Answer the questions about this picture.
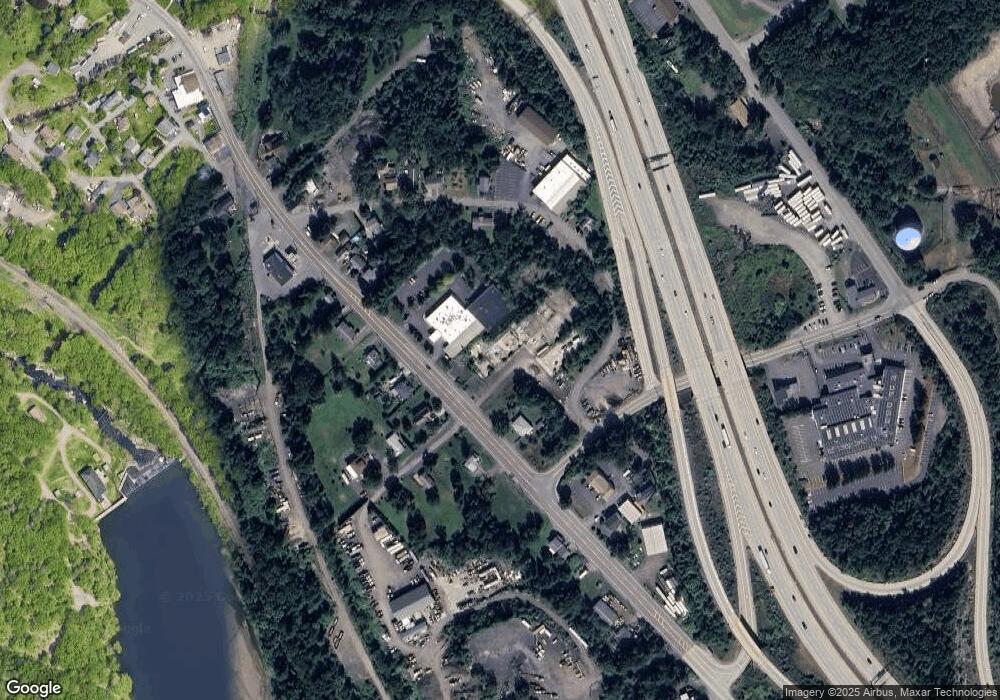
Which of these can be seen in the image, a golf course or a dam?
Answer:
dam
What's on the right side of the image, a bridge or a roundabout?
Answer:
bridge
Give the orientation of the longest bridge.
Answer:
diagonally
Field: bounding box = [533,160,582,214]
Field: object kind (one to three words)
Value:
building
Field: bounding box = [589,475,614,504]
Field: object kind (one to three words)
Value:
building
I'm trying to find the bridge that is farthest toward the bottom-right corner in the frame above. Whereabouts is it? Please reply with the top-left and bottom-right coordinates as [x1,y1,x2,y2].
[723,612,797,687]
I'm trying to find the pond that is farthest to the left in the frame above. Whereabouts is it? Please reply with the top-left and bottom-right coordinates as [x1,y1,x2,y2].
[98,462,270,700]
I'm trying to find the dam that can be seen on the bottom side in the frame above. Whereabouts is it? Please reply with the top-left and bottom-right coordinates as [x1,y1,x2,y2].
[95,452,182,520]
